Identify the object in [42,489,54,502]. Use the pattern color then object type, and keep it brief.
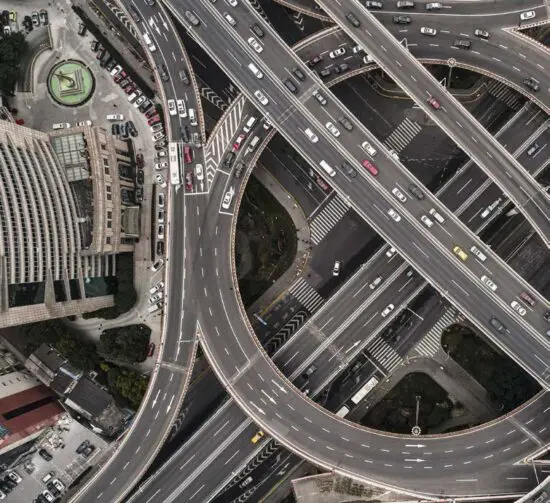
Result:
white vehicle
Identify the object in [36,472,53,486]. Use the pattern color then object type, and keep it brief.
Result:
white vehicle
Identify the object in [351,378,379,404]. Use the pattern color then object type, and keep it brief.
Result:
white bus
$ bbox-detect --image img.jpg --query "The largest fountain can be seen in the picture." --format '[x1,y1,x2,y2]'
[46,58,93,106]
